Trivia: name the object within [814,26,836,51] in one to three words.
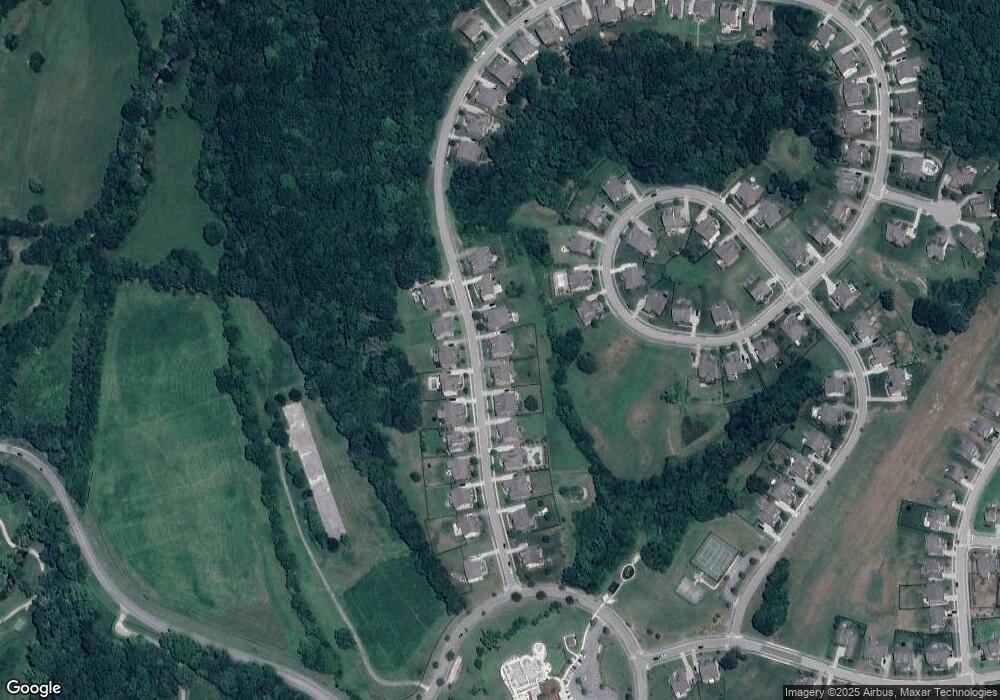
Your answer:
house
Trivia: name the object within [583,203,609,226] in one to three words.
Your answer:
house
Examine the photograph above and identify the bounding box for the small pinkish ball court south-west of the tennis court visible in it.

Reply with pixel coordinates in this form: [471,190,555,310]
[676,578,705,604]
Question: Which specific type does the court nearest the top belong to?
tennis court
